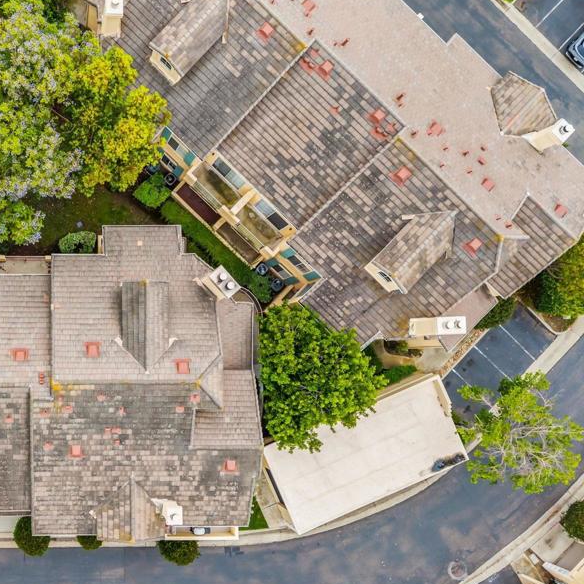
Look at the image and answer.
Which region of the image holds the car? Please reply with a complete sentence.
The car sits in the top right section of the image.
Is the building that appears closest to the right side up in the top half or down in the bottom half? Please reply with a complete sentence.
It is in the bottom half that the building that appears closest to the right side appears.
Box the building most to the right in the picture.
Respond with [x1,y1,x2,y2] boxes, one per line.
[536,536,584,584]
